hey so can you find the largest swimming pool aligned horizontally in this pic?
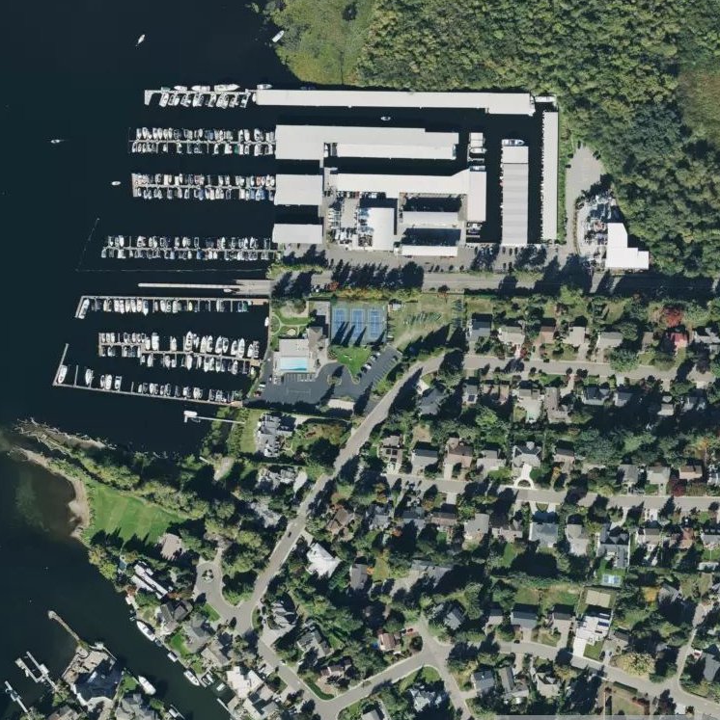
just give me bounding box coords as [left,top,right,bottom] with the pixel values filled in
[280,357,309,371]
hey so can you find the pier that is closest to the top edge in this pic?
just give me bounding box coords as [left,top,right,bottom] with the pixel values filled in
[144,89,257,105]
